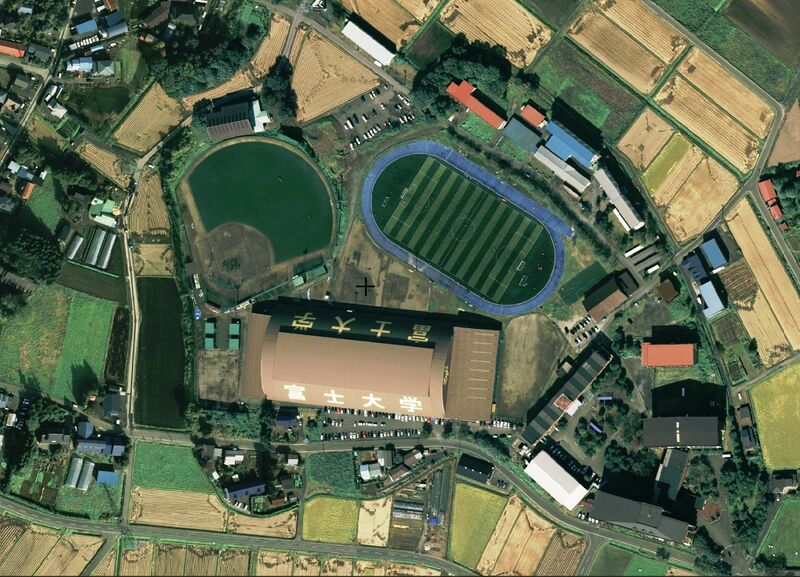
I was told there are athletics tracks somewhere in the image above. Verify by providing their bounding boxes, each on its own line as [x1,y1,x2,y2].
[360,141,574,316]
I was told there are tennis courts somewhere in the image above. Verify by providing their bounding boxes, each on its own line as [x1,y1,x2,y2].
[558,261,608,306]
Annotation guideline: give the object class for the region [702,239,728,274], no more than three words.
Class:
building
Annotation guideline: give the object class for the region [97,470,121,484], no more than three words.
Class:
shed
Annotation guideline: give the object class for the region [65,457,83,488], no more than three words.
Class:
greenhouse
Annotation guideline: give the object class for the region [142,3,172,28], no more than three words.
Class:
house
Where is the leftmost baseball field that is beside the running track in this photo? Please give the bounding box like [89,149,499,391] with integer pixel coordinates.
[177,137,338,305]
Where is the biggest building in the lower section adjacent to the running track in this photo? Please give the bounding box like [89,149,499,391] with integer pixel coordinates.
[241,310,502,421]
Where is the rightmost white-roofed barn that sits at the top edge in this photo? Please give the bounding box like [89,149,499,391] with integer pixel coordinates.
[341,21,398,66]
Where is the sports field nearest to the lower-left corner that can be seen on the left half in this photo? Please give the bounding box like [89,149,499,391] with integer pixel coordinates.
[200,350,238,400]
